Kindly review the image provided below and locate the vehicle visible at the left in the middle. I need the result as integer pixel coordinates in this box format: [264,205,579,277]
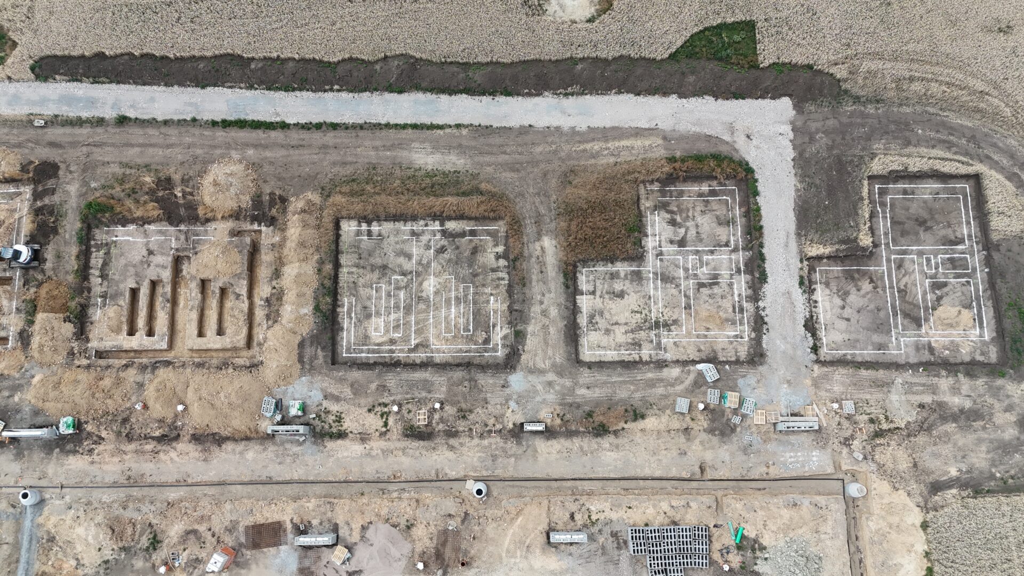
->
[0,240,44,266]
